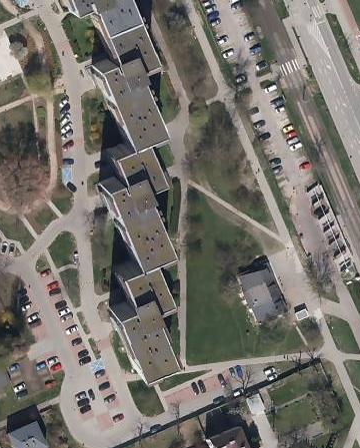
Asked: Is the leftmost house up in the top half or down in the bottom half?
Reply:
bottom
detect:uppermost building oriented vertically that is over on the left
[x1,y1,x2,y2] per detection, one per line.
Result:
[64,0,180,385]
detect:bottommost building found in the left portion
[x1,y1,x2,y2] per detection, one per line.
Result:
[10,421,47,448]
